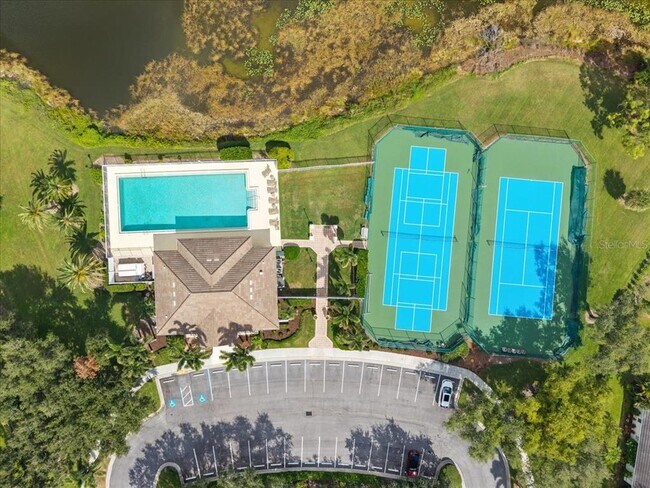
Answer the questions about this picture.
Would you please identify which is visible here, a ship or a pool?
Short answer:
pool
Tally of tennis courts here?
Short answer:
2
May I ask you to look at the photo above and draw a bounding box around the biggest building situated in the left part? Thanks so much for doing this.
[154,237,278,349]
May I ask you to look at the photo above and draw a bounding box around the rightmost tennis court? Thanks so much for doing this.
[465,136,585,355]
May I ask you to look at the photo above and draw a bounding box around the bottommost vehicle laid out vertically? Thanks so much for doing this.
[406,450,420,478]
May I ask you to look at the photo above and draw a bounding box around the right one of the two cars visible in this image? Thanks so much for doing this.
[440,379,454,408]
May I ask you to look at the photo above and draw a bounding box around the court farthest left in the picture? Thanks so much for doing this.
[365,126,481,346]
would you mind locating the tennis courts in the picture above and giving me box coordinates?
[465,136,585,355]
[365,126,481,346]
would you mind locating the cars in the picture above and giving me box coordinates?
[406,450,420,478]
[440,379,454,408]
